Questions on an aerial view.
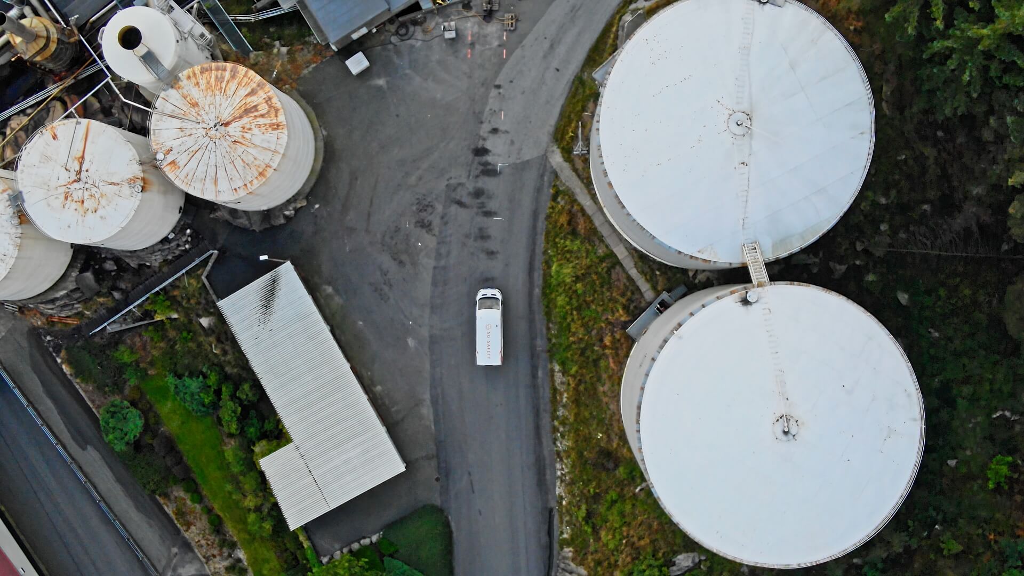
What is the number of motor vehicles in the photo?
one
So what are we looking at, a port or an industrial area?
industrial area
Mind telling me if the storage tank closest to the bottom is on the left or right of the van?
to the right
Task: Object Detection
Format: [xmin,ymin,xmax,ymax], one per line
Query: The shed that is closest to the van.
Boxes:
[217,261,409,528]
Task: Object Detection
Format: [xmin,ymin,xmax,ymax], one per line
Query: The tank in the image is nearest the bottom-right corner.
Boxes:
[619,282,932,573]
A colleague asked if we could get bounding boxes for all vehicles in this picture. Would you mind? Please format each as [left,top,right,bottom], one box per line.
[473,289,505,367]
